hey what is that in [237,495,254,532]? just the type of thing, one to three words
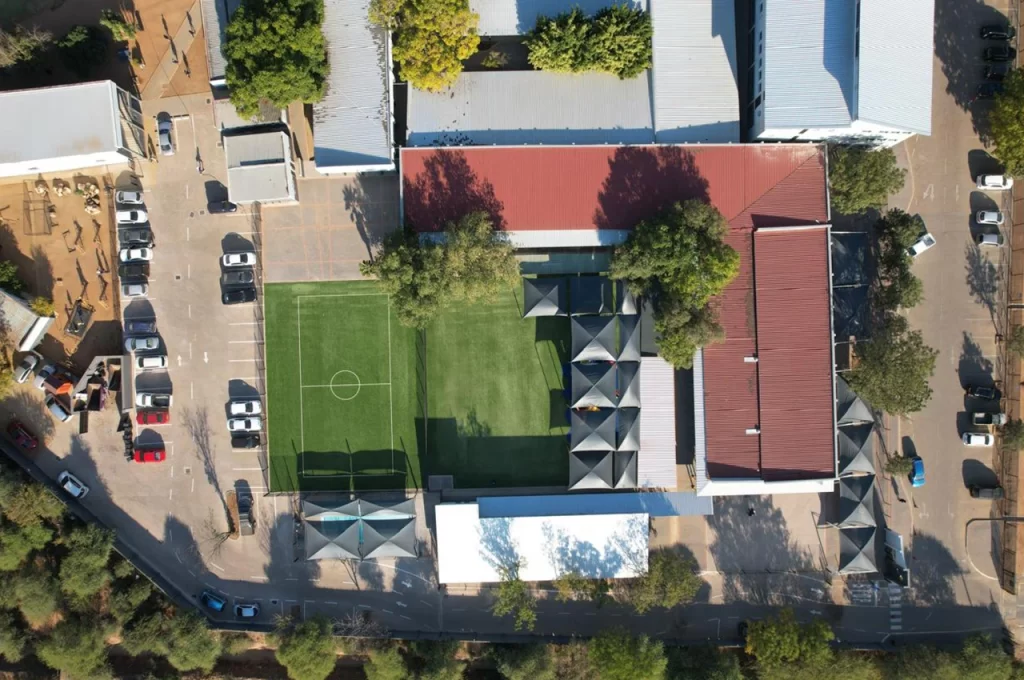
vehicle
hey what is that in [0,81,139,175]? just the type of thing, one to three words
building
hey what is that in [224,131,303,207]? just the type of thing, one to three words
shed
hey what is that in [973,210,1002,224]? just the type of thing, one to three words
car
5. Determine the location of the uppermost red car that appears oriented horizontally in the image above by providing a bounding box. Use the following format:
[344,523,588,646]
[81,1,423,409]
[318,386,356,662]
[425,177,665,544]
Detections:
[137,410,171,425]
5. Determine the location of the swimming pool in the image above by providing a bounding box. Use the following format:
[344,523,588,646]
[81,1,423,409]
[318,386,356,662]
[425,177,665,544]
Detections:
[300,491,427,560]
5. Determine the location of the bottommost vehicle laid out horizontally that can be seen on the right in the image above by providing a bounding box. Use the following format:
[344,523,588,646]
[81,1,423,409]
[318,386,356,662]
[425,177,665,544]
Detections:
[967,485,1001,500]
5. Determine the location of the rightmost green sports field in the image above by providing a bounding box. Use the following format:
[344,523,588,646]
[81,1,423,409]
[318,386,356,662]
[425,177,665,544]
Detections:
[417,273,642,491]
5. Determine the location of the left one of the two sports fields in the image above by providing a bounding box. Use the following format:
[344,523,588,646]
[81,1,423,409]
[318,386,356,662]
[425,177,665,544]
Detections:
[263,281,421,493]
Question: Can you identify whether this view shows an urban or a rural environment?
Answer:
urban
